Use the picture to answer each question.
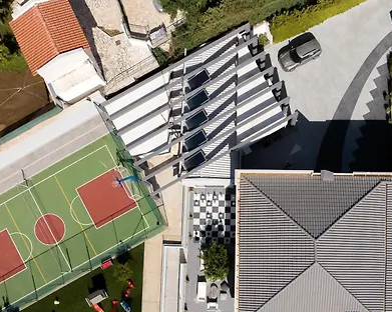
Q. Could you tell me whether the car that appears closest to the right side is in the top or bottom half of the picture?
top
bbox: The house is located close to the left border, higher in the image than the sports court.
[7,0,112,111]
